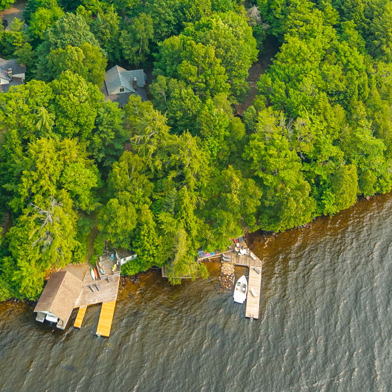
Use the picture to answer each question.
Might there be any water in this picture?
Yes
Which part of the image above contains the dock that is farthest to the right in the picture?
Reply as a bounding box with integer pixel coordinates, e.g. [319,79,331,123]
[222,247,262,322]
